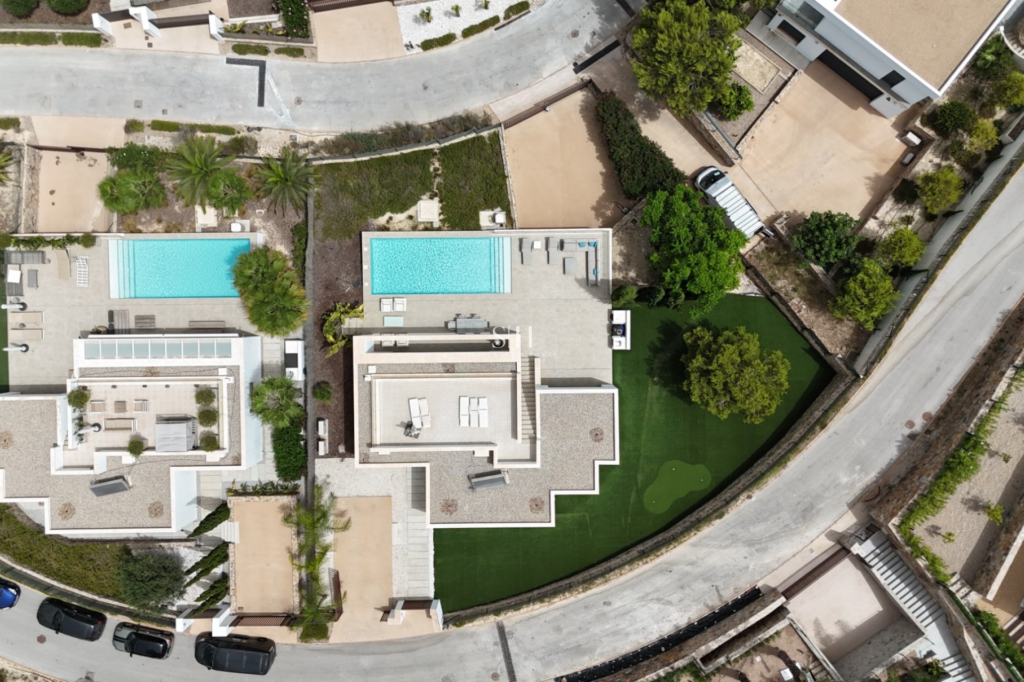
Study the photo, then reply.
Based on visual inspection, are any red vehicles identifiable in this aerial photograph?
No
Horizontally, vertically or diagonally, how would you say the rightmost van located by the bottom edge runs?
horizontally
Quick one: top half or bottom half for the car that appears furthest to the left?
bottom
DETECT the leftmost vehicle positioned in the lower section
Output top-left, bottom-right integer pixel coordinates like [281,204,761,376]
[0,576,26,608]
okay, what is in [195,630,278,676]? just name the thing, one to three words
van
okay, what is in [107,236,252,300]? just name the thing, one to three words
swimming pool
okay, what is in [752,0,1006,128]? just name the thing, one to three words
house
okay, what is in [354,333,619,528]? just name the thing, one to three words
house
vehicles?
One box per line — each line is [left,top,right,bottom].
[37,595,111,643]
[195,630,278,676]
[697,168,778,245]
[0,576,26,608]
[114,621,177,658]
